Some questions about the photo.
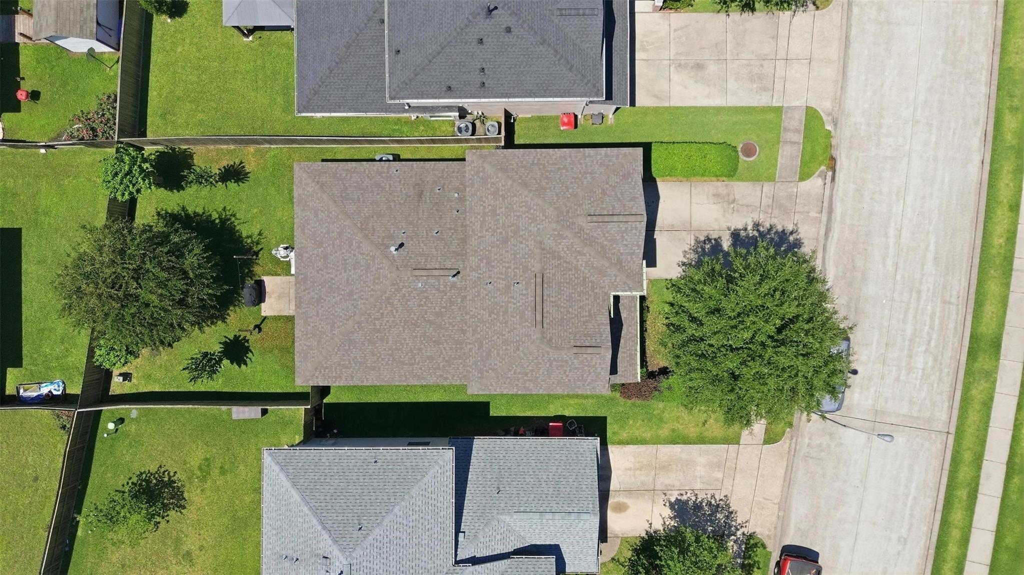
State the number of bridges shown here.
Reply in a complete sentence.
I count no bridges.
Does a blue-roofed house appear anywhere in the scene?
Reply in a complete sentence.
No, the photo shows no blue-roofed house.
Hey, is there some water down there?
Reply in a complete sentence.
No, no water is visible.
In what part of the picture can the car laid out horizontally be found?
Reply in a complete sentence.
You can find the car laid out horizontally in the bottom right area of the picture.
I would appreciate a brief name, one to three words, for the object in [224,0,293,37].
gazebo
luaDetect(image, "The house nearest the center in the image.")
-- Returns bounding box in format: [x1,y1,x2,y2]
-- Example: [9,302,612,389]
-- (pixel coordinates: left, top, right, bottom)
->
[295,149,647,394]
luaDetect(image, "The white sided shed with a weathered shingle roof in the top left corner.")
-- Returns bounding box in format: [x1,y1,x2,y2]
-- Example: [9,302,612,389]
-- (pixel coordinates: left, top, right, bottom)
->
[33,0,120,52]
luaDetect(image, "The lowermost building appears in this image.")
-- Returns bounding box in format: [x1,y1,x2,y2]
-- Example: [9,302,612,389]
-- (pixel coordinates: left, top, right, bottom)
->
[260,433,603,575]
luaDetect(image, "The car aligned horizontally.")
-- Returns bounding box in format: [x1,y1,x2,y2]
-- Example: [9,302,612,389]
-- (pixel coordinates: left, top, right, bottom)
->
[775,553,822,575]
